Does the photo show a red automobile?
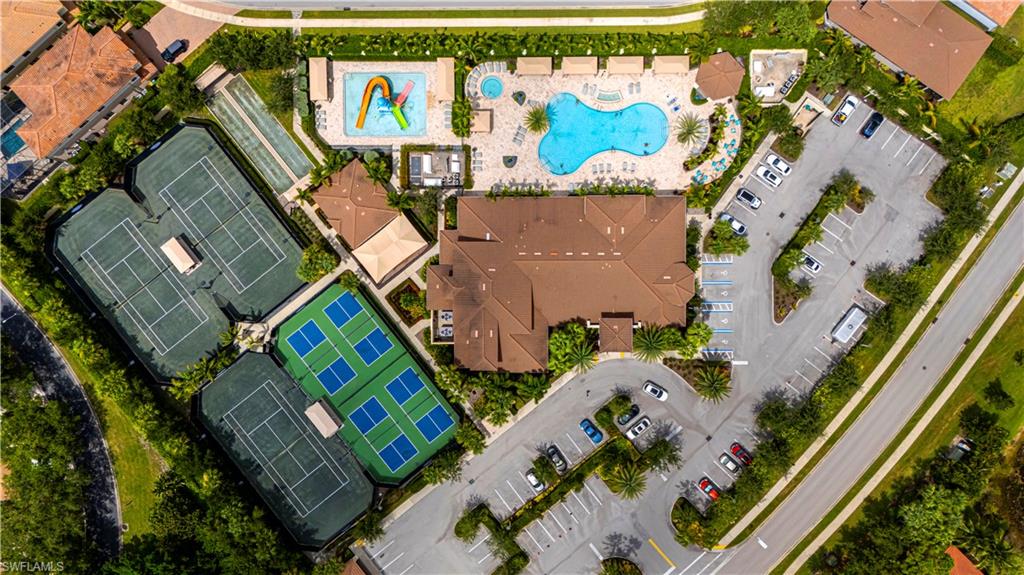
Yes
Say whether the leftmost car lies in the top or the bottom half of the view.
top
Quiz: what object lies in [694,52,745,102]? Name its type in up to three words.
gazebo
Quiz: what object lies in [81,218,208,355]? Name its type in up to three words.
tennis court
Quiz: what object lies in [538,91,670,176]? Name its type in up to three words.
swimming pool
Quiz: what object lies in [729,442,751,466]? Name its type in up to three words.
car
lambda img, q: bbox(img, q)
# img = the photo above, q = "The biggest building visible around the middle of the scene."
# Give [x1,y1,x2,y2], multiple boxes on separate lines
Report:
[426,194,694,372]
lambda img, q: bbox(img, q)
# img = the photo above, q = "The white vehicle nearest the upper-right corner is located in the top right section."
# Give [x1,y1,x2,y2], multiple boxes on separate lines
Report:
[832,94,858,126]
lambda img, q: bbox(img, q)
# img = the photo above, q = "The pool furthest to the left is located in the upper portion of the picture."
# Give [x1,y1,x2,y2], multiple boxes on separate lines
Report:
[0,115,29,162]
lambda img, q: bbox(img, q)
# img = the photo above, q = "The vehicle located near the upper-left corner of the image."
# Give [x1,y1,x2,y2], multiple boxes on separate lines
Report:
[161,38,188,62]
